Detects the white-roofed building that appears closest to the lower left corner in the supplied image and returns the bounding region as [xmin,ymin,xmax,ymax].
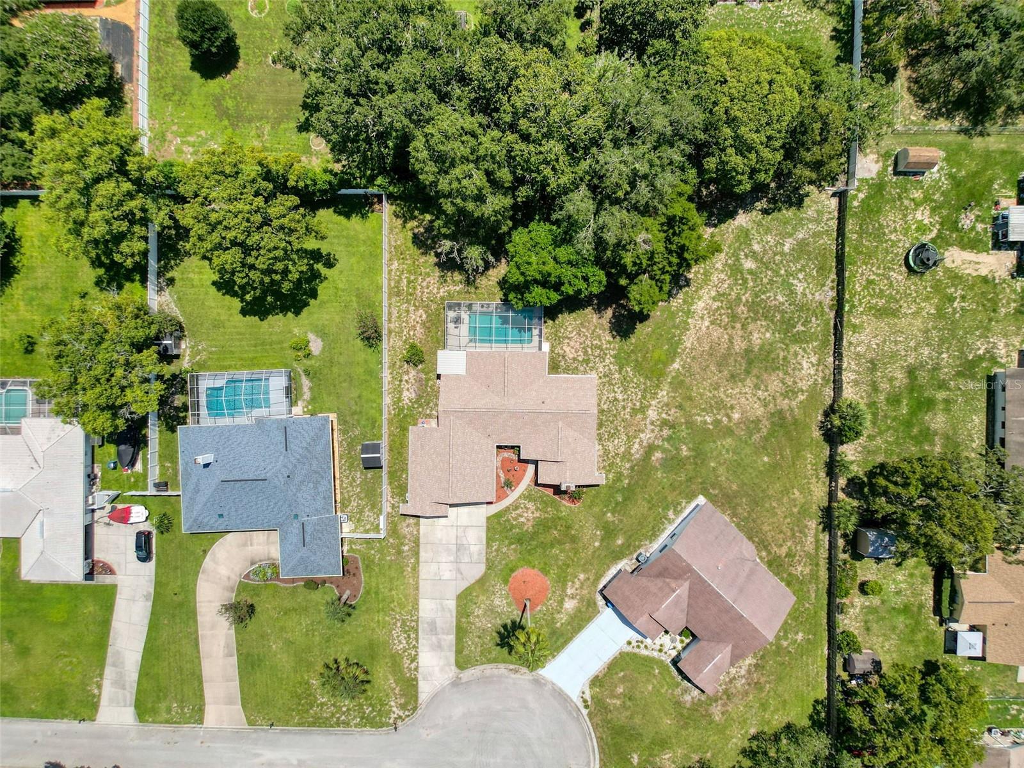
[0,418,94,582]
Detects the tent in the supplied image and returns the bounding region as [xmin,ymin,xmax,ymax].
[942,624,979,656]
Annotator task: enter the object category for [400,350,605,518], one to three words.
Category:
house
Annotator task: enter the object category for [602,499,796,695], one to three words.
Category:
house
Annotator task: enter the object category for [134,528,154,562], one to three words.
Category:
car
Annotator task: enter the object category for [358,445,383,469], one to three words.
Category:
shed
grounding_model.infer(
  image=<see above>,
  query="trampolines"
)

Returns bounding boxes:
[905,239,945,273]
